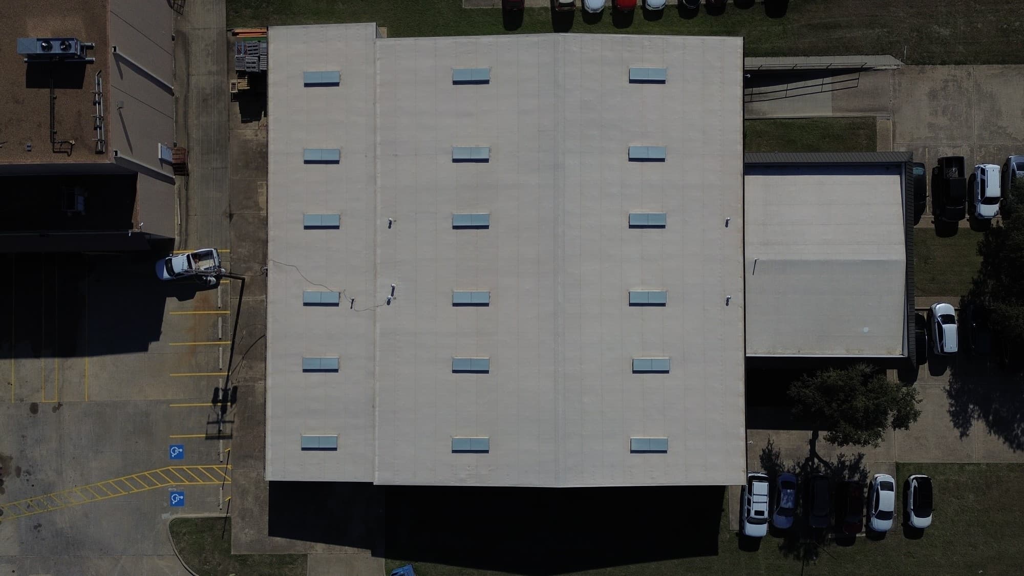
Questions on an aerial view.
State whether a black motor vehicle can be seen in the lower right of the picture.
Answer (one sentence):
Yes, there is a black motor vehicle in the lower right of the picture.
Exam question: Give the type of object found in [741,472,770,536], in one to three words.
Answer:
car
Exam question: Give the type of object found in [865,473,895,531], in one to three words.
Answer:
car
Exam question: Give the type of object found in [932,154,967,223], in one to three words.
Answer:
truck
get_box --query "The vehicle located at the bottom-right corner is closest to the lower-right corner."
[903,473,933,528]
